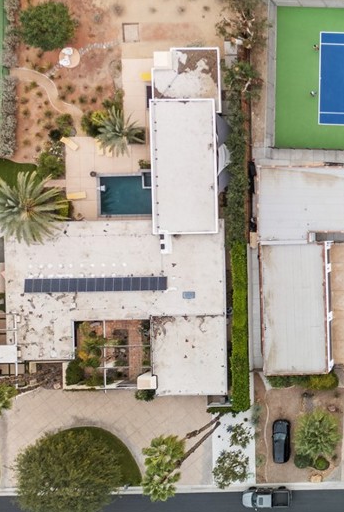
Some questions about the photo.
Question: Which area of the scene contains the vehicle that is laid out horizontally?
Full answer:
You can find the vehicle that is laid out horizontally in the bottom right area of the picture.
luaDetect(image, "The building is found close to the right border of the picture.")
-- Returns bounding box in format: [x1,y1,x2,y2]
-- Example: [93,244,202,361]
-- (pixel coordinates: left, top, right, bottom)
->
[258,166,344,375]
